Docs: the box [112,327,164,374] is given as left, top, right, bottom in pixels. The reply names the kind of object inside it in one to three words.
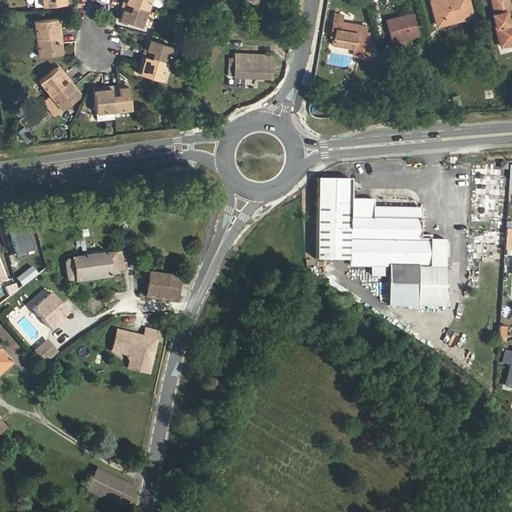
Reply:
house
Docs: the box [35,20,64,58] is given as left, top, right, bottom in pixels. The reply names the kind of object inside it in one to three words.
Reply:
house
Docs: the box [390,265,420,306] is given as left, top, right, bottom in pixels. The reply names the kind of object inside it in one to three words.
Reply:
building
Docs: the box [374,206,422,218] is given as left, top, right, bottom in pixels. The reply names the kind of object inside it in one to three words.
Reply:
building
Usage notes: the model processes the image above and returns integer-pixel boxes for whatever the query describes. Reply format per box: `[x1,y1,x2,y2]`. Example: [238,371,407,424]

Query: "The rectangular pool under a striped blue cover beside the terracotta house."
[326,44,357,71]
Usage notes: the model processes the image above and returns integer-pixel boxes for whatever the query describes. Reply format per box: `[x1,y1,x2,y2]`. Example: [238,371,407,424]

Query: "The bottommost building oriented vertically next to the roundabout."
[320,178,353,260]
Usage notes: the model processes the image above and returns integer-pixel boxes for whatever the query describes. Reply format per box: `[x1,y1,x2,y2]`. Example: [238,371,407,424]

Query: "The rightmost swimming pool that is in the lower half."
[6,306,50,346]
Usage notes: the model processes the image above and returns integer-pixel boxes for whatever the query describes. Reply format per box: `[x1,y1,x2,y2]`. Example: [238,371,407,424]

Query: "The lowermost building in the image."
[88,467,139,512]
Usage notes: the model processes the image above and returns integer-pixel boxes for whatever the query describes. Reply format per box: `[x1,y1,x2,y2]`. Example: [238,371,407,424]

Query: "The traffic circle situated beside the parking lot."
[216,112,305,202]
